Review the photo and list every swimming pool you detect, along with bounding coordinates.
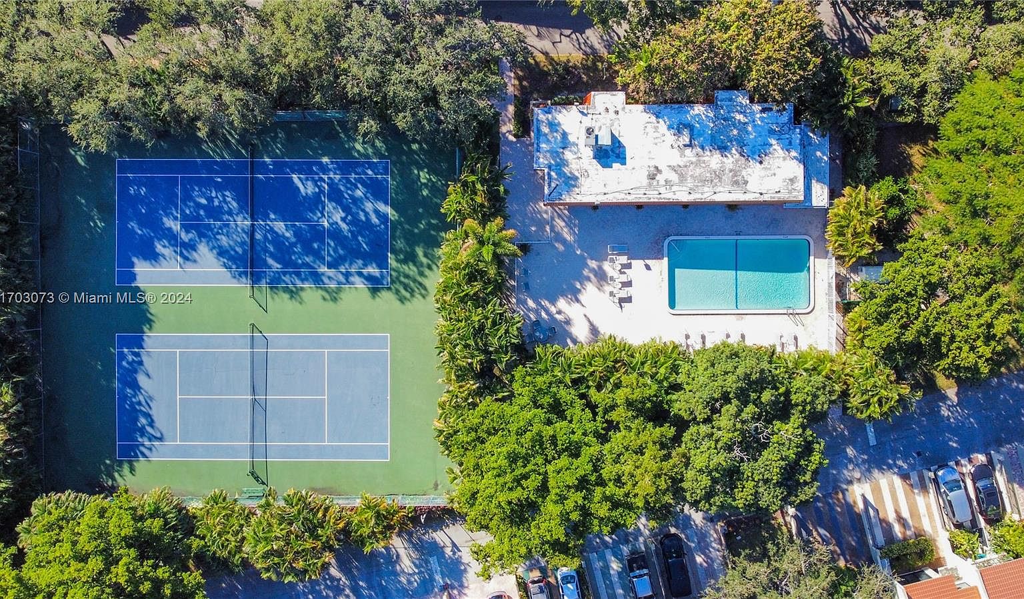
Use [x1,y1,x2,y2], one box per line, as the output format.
[664,235,815,315]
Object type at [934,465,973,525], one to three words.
car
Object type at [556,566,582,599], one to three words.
car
